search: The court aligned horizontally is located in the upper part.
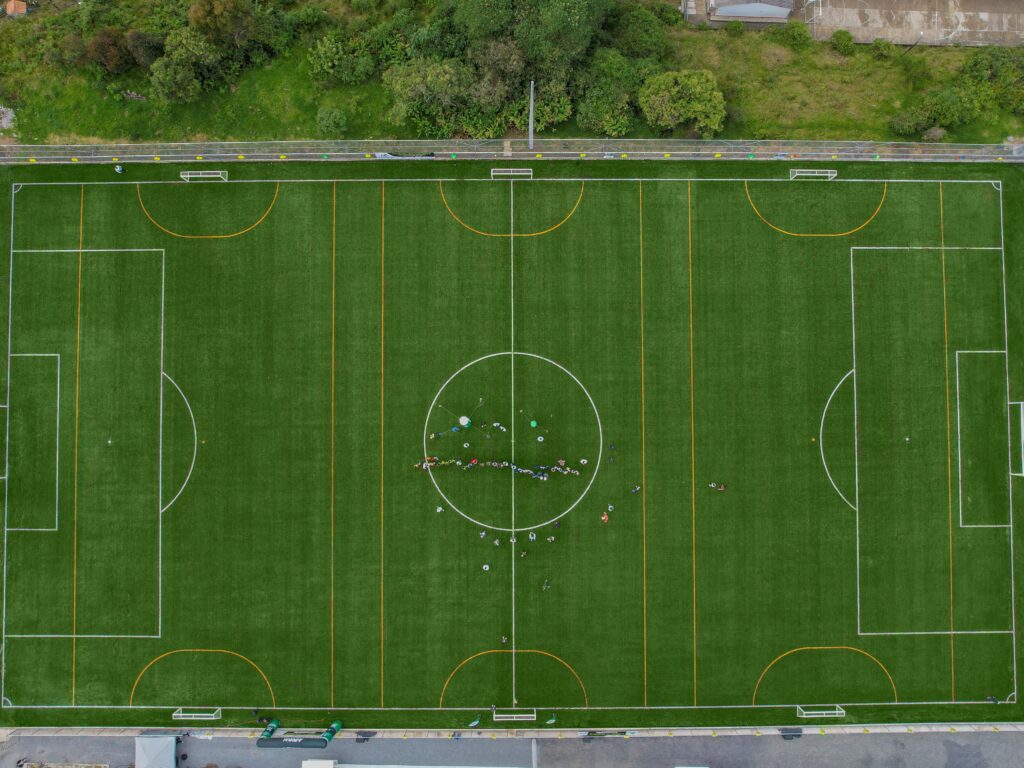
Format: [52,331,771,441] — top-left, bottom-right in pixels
[806,0,1024,48]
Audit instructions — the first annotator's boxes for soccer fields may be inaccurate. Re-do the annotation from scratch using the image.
[0,159,1024,729]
